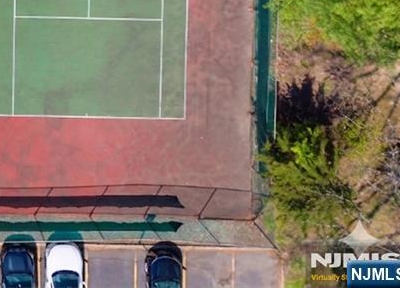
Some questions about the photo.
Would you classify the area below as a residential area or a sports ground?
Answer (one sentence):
It's a sports ground.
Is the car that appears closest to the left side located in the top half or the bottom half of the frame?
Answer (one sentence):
The bottom half of the photo is where the car that appears closest to the left side is.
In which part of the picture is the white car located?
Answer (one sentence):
The white car sits in the bottom left section of the image.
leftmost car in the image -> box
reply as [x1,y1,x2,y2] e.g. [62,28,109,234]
[0,242,42,288]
